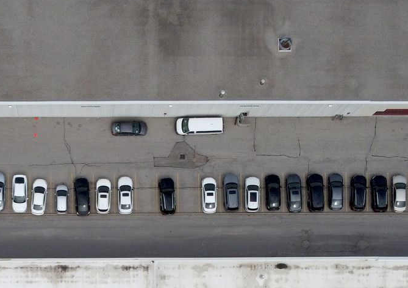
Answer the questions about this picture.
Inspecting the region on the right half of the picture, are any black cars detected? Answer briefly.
Yes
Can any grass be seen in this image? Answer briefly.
No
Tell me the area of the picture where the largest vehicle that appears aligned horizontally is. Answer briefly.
center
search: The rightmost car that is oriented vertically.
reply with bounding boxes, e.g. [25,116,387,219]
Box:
[390,175,408,213]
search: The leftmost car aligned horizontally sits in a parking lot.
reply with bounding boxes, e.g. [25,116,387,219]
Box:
[111,120,147,137]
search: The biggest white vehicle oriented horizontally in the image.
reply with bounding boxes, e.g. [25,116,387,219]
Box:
[175,115,224,136]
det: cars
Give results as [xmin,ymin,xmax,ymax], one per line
[285,174,303,213]
[349,175,368,211]
[390,175,408,213]
[95,179,113,215]
[158,178,176,216]
[0,173,7,211]
[305,174,325,213]
[10,175,29,214]
[264,175,282,211]
[117,177,135,215]
[54,185,70,214]
[73,177,91,217]
[222,174,240,213]
[369,175,389,214]
[31,178,48,216]
[243,177,262,213]
[111,120,147,137]
[200,177,218,215]
[326,174,343,210]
